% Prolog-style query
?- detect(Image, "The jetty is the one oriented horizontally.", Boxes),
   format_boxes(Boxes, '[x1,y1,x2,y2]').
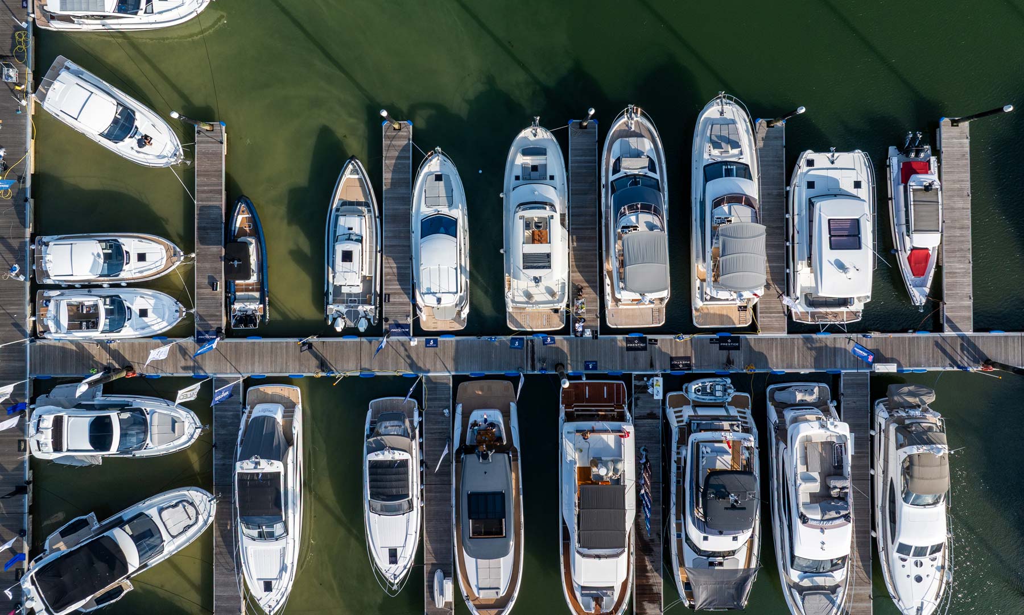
[32,329,1024,380]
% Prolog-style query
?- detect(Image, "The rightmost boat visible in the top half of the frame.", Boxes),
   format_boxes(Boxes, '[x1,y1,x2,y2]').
[883,130,943,311]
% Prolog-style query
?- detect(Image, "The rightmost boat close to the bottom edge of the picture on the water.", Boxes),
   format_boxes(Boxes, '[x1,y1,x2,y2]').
[870,397,965,615]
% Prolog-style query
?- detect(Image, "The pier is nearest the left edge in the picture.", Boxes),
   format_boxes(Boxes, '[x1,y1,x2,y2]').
[0,0,37,615]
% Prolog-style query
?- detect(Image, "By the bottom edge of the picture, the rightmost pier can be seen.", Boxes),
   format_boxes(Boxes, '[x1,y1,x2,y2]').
[839,371,872,615]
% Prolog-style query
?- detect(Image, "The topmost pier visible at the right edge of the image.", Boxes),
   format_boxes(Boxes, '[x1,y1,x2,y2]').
[935,116,973,333]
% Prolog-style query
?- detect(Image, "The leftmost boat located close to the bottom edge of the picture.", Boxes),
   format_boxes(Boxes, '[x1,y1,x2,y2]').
[14,490,227,615]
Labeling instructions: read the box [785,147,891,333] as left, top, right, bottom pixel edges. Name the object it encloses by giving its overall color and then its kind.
white boat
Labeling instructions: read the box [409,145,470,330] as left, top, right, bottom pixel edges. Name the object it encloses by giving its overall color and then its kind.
white boat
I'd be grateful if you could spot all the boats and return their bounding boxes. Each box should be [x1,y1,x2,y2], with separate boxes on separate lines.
[689,91,766,328]
[870,397,965,615]
[664,391,769,612]
[324,156,382,331]
[600,102,669,328]
[503,115,568,330]
[683,377,734,404]
[234,384,306,615]
[35,232,195,284]
[18,383,211,469]
[558,379,635,615]
[36,56,191,167]
[364,397,422,598]
[772,384,818,402]
[225,194,270,328]
[37,287,198,340]
[409,145,470,330]
[764,382,856,615]
[35,0,214,32]
[785,147,891,333]
[883,130,943,311]
[14,490,227,615]
[453,380,523,615]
